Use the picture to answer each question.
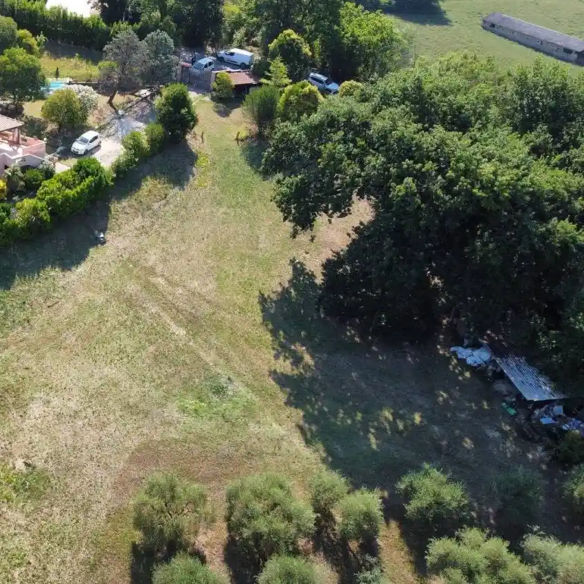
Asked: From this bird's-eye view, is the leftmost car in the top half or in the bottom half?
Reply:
top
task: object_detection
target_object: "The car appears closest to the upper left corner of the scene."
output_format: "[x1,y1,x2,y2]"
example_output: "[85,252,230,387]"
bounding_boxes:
[72,124,105,151]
